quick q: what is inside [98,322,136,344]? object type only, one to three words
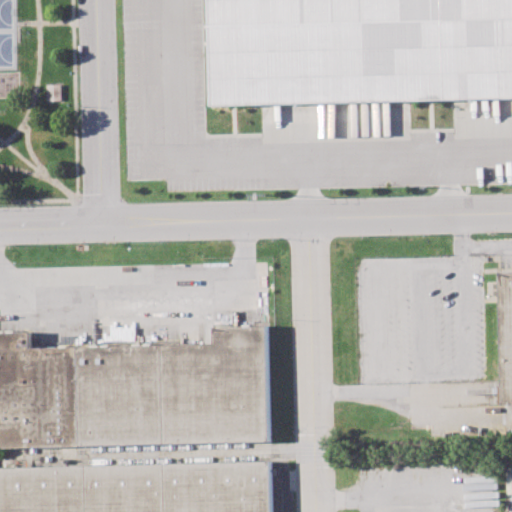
building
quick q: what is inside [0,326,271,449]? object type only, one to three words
building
